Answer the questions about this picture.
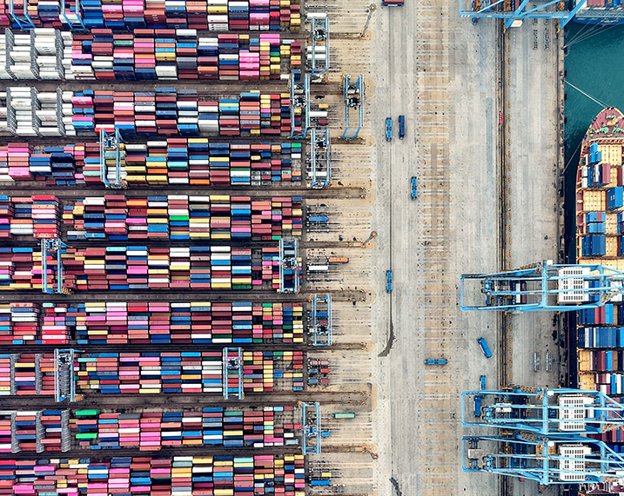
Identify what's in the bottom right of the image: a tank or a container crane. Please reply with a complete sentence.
There is a container crane in the bottom right of the image.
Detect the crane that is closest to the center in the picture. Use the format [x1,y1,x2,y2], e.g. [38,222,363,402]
[275,236,303,293]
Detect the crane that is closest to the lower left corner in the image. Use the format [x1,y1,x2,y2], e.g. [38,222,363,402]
[55,348,88,403]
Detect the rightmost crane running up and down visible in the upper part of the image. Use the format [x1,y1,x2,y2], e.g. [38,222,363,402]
[336,71,367,137]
